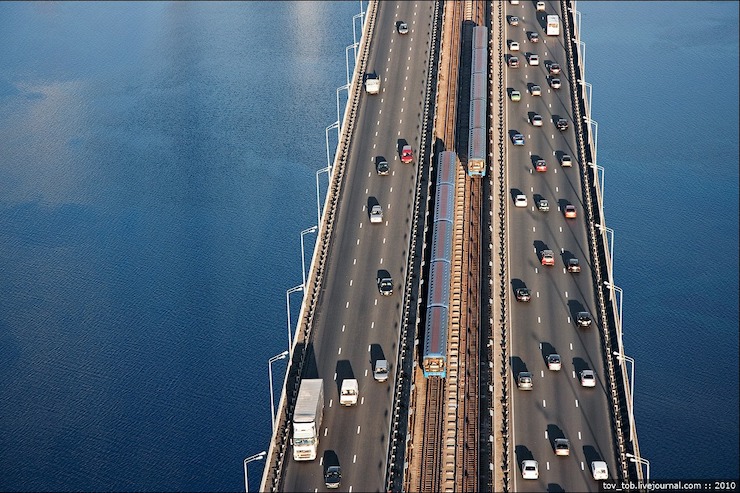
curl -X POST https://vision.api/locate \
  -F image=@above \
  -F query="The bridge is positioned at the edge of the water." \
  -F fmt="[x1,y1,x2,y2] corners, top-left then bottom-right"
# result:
[261,0,645,493]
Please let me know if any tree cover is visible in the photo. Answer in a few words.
No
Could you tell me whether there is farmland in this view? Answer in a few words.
No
